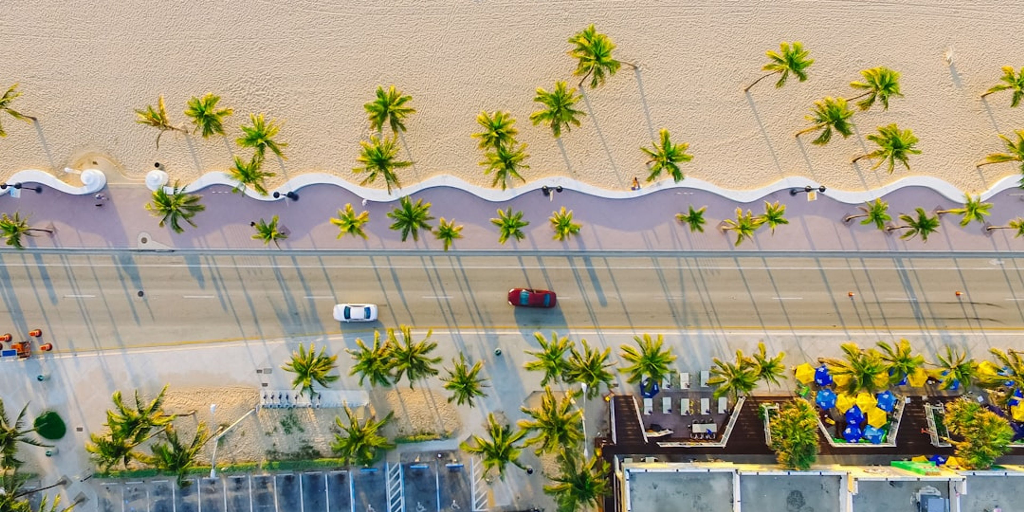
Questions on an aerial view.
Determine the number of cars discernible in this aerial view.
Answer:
2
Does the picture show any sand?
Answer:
Yes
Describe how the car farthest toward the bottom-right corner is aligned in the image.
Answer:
horizontally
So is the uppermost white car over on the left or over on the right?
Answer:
left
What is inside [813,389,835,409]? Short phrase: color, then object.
blue umbrella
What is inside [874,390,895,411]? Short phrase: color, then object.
blue umbrella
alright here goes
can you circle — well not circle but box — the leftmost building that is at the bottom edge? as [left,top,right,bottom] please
[615,463,737,512]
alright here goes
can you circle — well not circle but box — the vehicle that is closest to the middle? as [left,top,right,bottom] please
[508,288,557,310]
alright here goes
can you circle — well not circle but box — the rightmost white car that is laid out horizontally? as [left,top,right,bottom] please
[332,303,377,324]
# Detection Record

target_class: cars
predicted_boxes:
[508,288,557,310]
[332,303,377,324]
